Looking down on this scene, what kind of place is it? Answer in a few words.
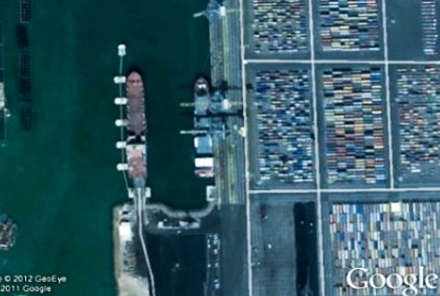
port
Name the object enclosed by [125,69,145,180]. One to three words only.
ship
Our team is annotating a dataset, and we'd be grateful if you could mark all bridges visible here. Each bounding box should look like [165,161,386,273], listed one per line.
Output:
[135,180,153,296]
